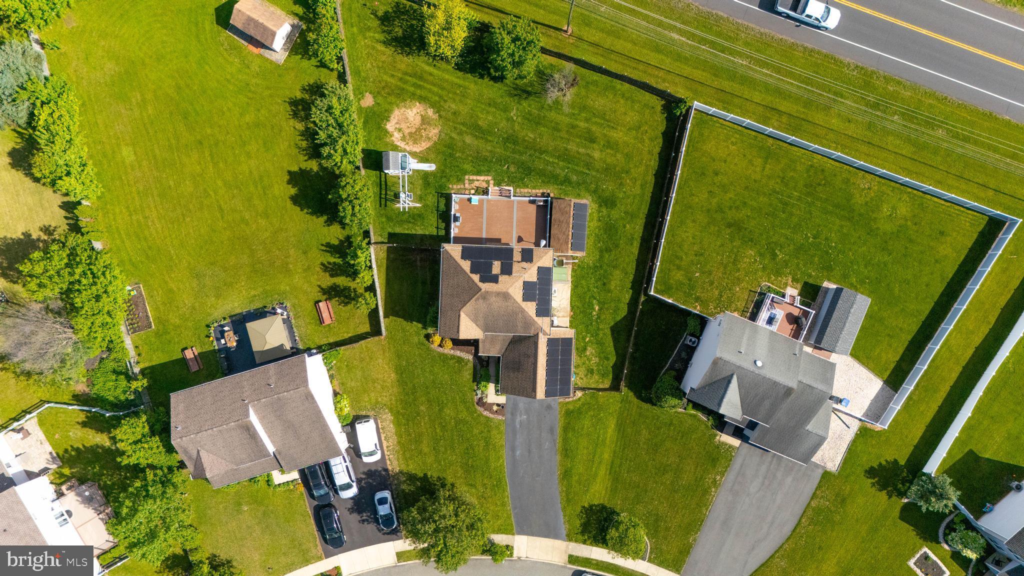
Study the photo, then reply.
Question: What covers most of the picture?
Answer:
grass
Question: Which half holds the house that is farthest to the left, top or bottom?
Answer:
bottom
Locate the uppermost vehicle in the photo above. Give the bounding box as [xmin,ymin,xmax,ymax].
[774,0,838,31]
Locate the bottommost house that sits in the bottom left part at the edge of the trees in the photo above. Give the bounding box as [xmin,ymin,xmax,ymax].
[0,439,102,576]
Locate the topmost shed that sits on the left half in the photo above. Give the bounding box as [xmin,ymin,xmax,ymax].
[230,0,295,53]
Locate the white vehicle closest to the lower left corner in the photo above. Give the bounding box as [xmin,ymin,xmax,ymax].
[329,450,359,499]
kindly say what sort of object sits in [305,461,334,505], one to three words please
car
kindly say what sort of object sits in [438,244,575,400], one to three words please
house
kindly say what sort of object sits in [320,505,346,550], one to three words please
car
